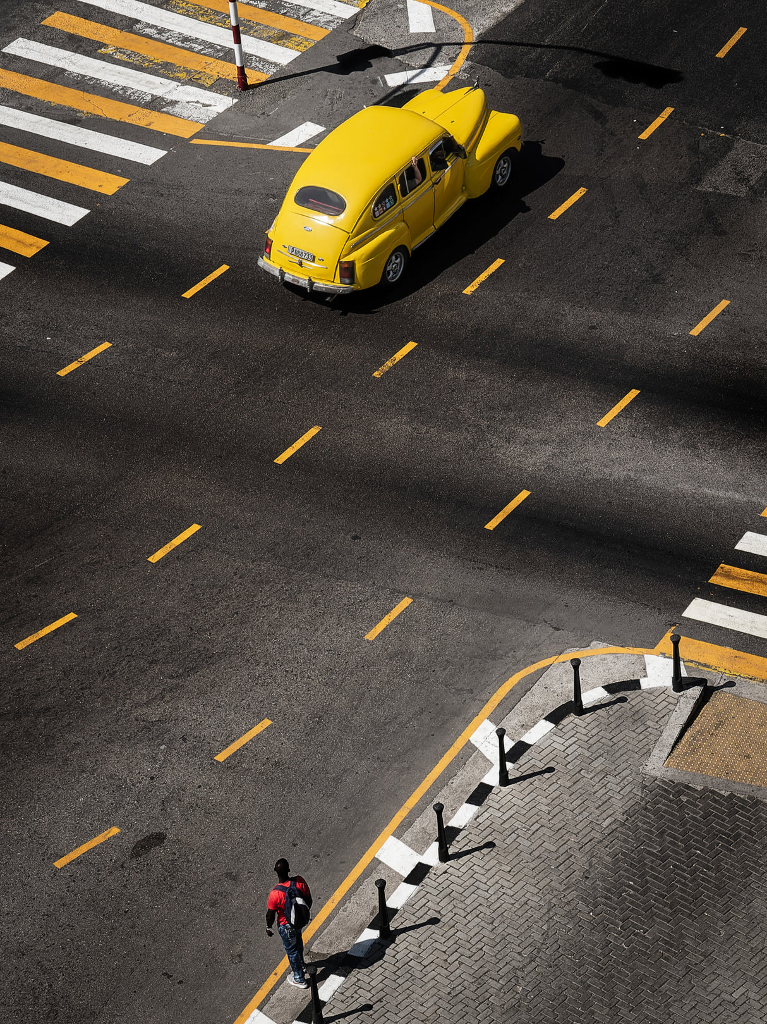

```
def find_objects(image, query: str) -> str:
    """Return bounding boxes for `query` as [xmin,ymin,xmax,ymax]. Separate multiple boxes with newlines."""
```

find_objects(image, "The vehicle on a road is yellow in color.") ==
[255,75,529,306]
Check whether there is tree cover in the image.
No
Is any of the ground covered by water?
No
